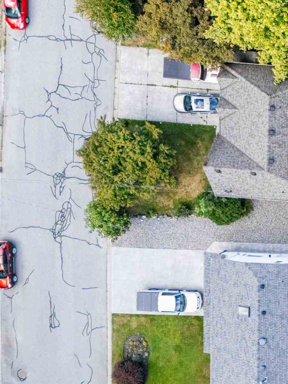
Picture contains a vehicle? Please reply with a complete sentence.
Yes, there is a vehicle in the image.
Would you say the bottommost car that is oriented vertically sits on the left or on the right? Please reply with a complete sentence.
The bottommost car that is oriented vertically sits on the left side.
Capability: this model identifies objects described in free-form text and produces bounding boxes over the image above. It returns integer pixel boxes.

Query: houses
[204,250,288,384]
[203,61,288,201]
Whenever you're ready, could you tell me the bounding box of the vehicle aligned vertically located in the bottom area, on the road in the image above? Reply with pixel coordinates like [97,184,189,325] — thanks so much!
[0,239,21,290]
